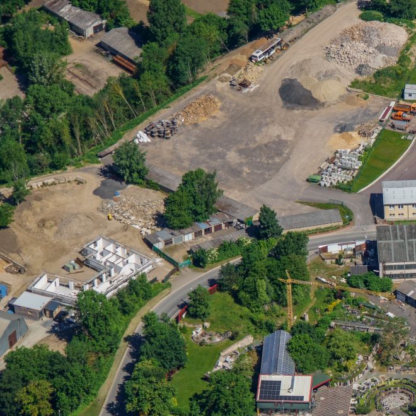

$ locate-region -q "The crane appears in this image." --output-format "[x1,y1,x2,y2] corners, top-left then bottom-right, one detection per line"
[273,268,394,330]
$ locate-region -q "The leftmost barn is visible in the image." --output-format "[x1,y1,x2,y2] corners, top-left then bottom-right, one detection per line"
[0,310,31,357]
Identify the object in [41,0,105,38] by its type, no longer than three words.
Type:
shed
